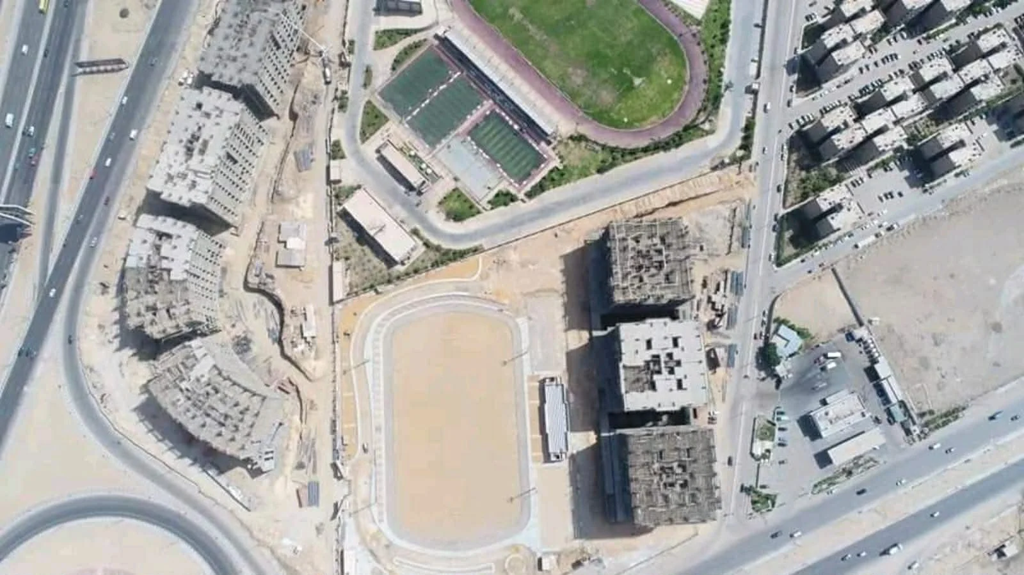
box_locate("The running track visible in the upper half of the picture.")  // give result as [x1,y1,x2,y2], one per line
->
[450,0,704,145]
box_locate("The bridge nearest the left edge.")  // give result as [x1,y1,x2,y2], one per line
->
[0,204,44,229]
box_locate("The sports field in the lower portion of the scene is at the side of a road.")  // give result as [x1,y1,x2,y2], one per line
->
[341,257,540,575]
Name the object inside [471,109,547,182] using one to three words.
soccer field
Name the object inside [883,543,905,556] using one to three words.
vehicle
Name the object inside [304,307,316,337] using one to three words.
shed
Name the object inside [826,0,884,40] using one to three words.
building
